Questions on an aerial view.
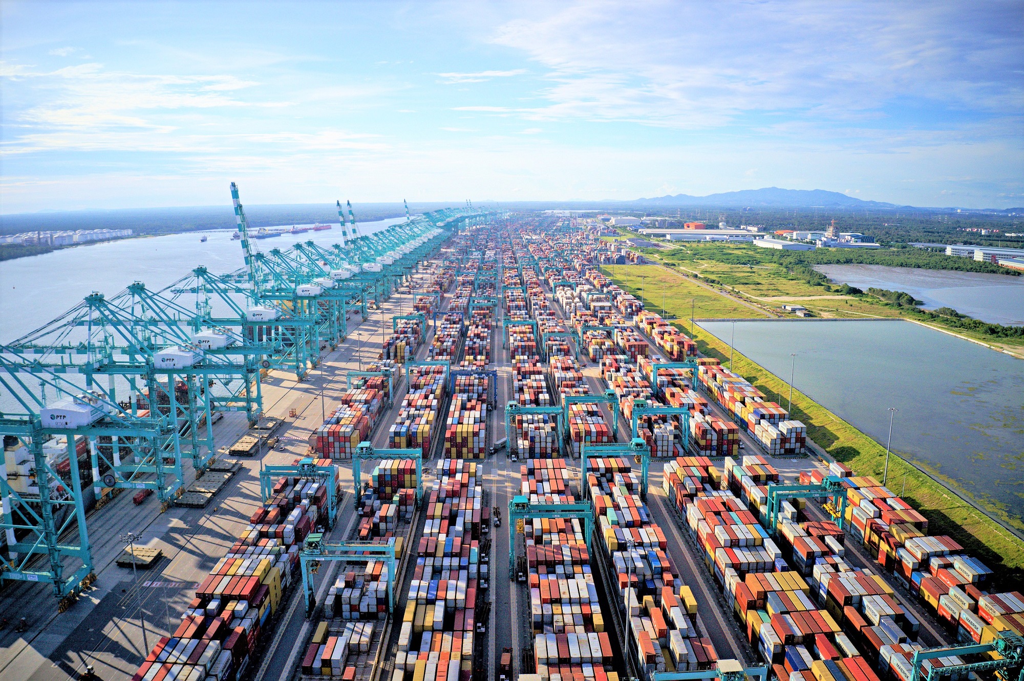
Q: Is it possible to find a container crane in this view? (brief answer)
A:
Yes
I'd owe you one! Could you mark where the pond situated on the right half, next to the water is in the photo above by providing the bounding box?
[694,321,1024,536]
